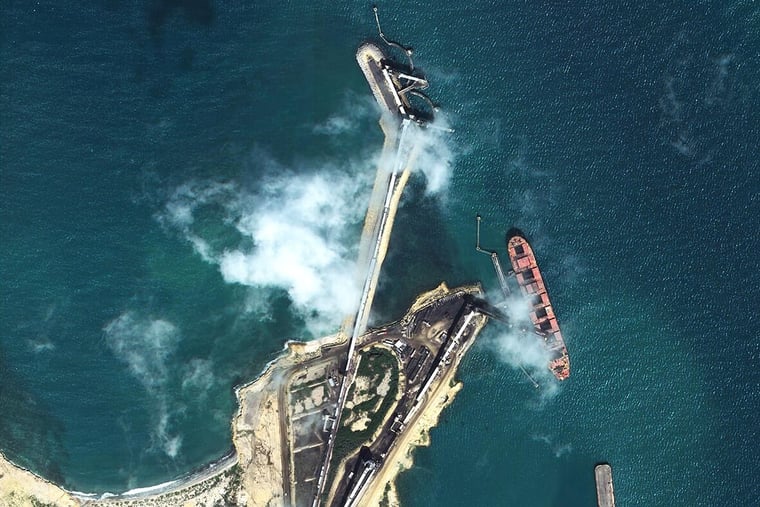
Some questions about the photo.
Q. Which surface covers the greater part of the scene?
water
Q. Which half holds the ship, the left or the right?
right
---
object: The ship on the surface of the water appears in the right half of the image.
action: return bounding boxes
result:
[510,236,571,382]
